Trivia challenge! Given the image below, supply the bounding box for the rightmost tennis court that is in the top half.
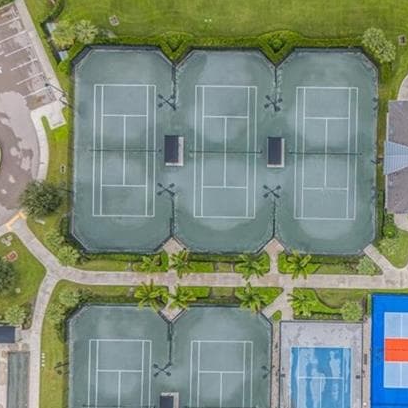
[275,51,377,254]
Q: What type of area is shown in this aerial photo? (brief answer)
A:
sports ground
